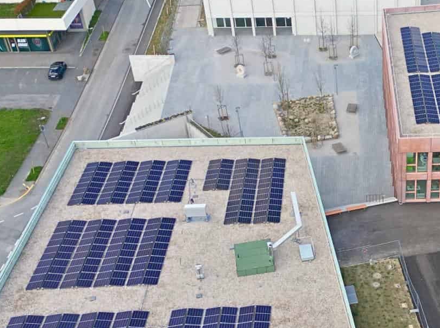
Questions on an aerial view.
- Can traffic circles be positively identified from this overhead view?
No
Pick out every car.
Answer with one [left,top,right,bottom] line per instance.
[48,60,67,79]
